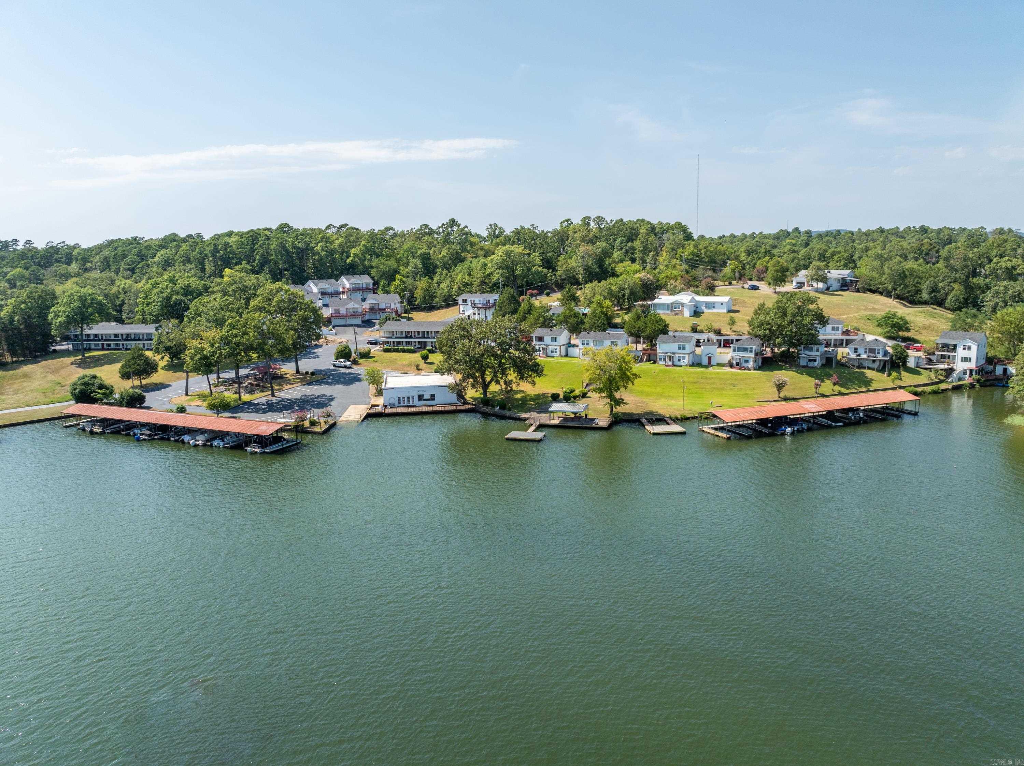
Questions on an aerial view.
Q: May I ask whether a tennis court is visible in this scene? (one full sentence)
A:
No, there isn't any tennis court down there.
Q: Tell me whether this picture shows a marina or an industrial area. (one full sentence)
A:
This looks like a marina.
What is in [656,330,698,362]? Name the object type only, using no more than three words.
house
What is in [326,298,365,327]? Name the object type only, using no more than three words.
house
